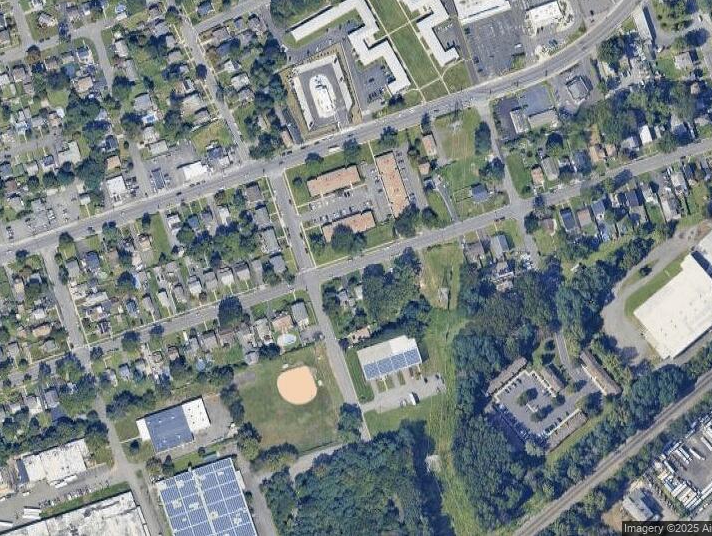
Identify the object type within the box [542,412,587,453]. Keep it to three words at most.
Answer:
house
